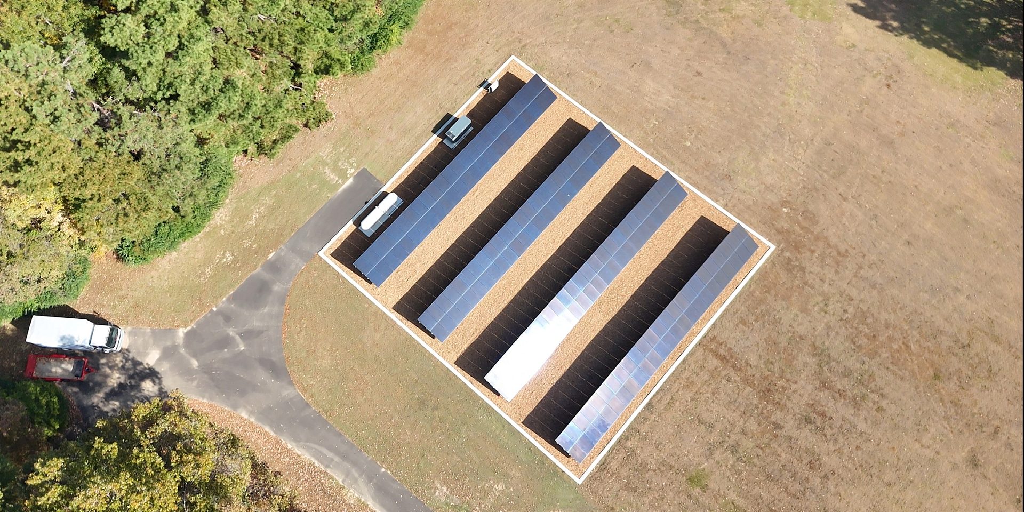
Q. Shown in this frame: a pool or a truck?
truck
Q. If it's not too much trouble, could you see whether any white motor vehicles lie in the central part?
No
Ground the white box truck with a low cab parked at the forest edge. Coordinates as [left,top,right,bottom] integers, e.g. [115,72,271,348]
[25,315,127,355]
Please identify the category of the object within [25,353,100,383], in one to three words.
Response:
trailer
